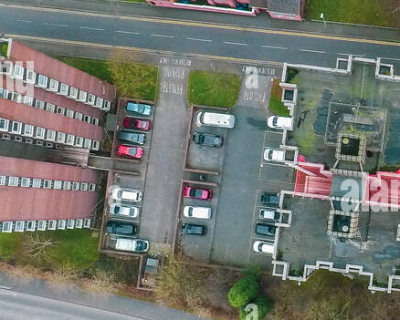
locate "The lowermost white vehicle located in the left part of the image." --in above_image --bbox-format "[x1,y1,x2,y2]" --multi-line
[111,237,148,253]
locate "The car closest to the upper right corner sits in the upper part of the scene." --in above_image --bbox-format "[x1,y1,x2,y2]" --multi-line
[266,112,290,129]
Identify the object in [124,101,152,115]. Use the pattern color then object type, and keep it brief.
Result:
blue vehicle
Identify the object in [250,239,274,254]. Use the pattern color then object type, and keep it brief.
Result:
white car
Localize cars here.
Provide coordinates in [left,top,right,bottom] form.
[253,223,276,237]
[121,116,150,130]
[110,187,141,202]
[182,186,212,201]
[254,205,278,221]
[191,130,221,146]
[108,202,138,218]
[124,101,152,115]
[255,190,279,205]
[262,145,283,161]
[104,220,136,235]
[115,144,143,158]
[116,131,145,145]
[182,204,211,219]
[250,239,274,254]
[266,112,290,129]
